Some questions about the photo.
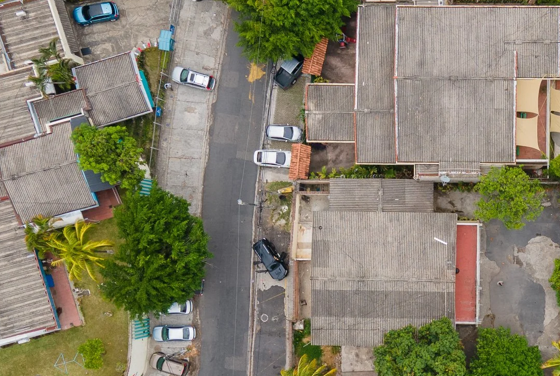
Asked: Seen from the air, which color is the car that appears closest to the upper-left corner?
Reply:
blue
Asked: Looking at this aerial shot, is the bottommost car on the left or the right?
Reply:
left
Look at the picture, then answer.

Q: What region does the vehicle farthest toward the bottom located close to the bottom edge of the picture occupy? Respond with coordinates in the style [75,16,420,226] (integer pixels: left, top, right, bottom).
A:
[150,352,192,376]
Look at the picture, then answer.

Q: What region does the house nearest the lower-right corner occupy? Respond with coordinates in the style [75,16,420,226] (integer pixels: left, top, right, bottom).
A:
[312,180,483,346]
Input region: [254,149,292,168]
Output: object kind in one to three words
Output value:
car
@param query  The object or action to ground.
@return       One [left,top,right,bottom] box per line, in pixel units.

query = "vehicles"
[249,237,289,280]
[155,324,198,343]
[157,300,198,317]
[268,51,307,93]
[75,2,122,25]
[266,124,304,143]
[254,149,292,168]
[174,66,218,92]
[150,352,192,376]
